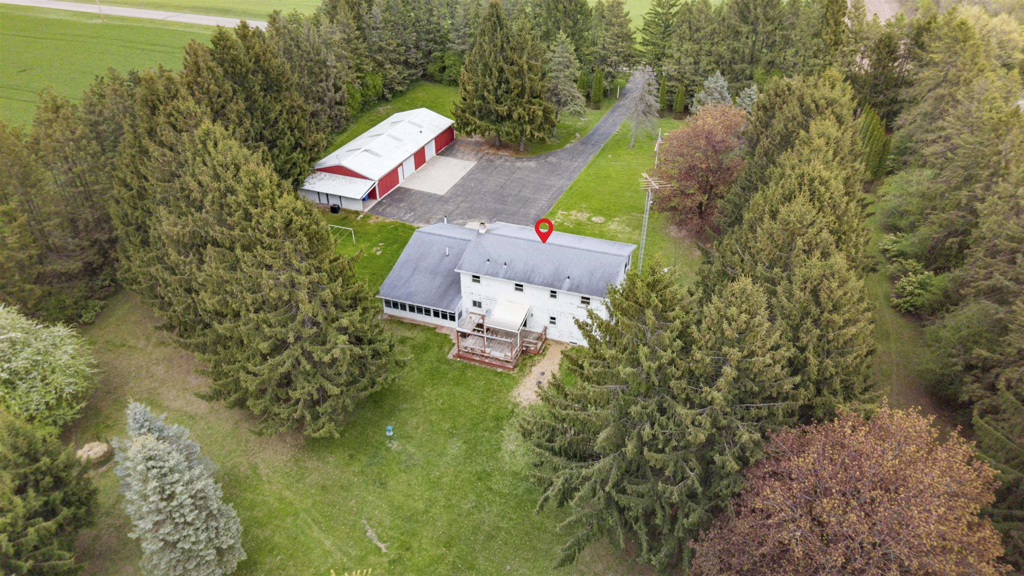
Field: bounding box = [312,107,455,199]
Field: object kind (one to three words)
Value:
barn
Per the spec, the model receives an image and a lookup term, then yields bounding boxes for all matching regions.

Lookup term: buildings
[312,107,455,199]
[377,215,638,349]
